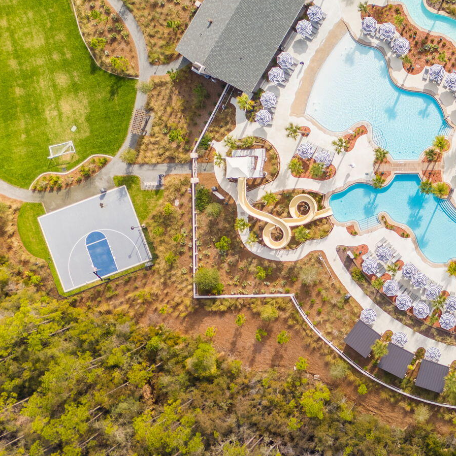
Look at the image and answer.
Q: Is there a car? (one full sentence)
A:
No, no car is visible in the scene.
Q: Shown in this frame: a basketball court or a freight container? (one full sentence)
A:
I can see a basketball court in this picture.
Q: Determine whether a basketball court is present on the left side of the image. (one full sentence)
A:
Yes, I can see a basketball court on the left side of the image.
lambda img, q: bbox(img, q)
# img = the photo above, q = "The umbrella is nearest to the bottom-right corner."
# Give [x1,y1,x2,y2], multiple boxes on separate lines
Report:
[425,345,442,362]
